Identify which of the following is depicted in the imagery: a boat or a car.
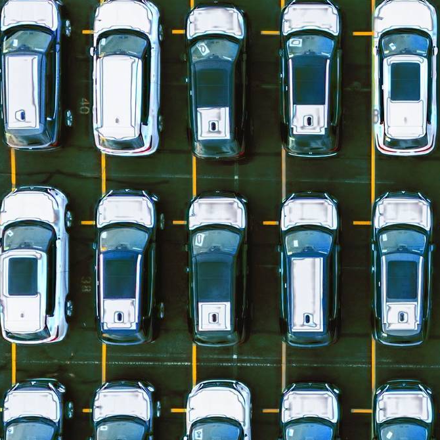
car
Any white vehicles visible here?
Yes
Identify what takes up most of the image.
paved ground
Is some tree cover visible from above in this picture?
No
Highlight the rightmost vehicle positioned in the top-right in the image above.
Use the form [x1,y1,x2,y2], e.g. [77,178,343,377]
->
[372,0,438,155]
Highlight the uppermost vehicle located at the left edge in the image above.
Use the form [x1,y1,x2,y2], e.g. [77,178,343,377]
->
[0,0,72,151]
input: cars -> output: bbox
[184,190,253,347]
[0,187,73,345]
[372,0,438,155]
[370,190,436,348]
[0,379,72,440]
[277,0,344,156]
[91,0,165,155]
[88,381,160,440]
[276,382,343,440]
[0,0,72,151]
[183,381,252,440]
[183,2,252,160]
[92,189,164,346]
[371,381,437,440]
[276,190,343,348]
